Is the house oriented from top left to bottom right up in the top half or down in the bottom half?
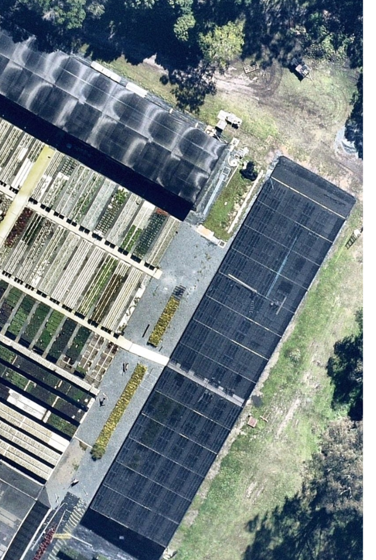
top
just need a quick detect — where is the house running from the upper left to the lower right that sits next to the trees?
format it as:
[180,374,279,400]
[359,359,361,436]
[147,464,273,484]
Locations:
[0,18,228,215]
